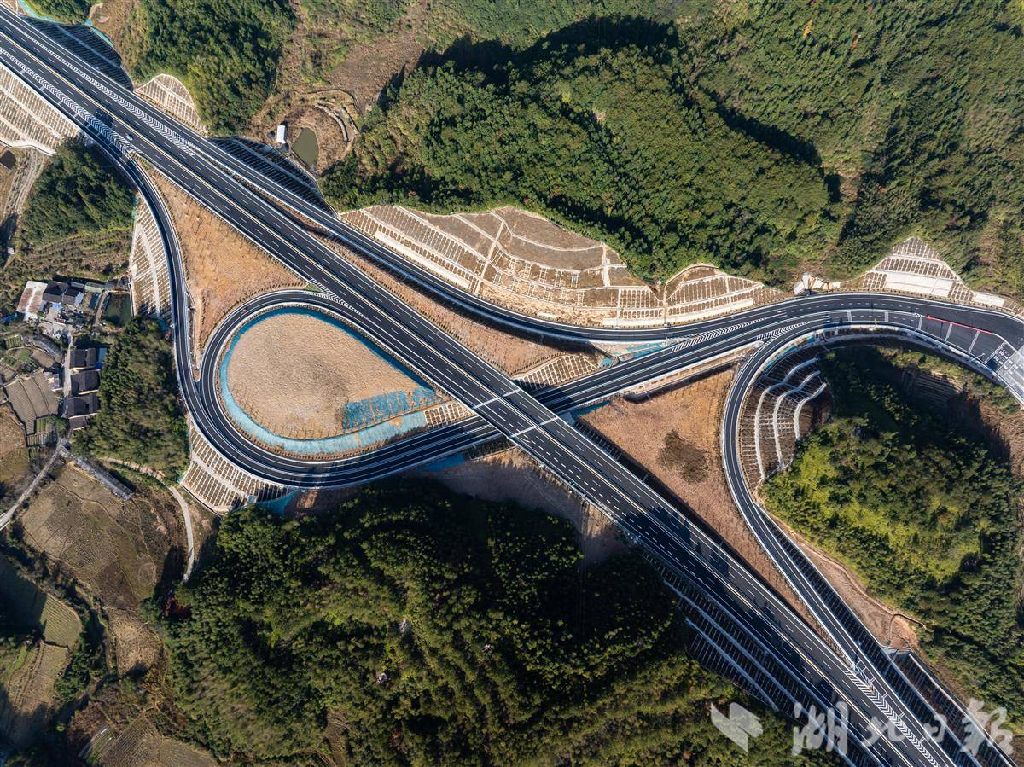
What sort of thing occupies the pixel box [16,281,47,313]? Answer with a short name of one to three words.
shed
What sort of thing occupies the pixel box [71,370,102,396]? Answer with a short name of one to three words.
house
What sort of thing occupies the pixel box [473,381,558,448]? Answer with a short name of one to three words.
overpass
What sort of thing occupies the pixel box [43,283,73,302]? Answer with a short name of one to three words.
house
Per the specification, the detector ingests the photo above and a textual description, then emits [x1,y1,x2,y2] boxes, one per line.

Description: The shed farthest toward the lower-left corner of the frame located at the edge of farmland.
[61,449,135,501]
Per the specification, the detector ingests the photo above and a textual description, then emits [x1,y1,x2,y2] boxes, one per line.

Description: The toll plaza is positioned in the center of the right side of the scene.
[997,346,1024,402]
